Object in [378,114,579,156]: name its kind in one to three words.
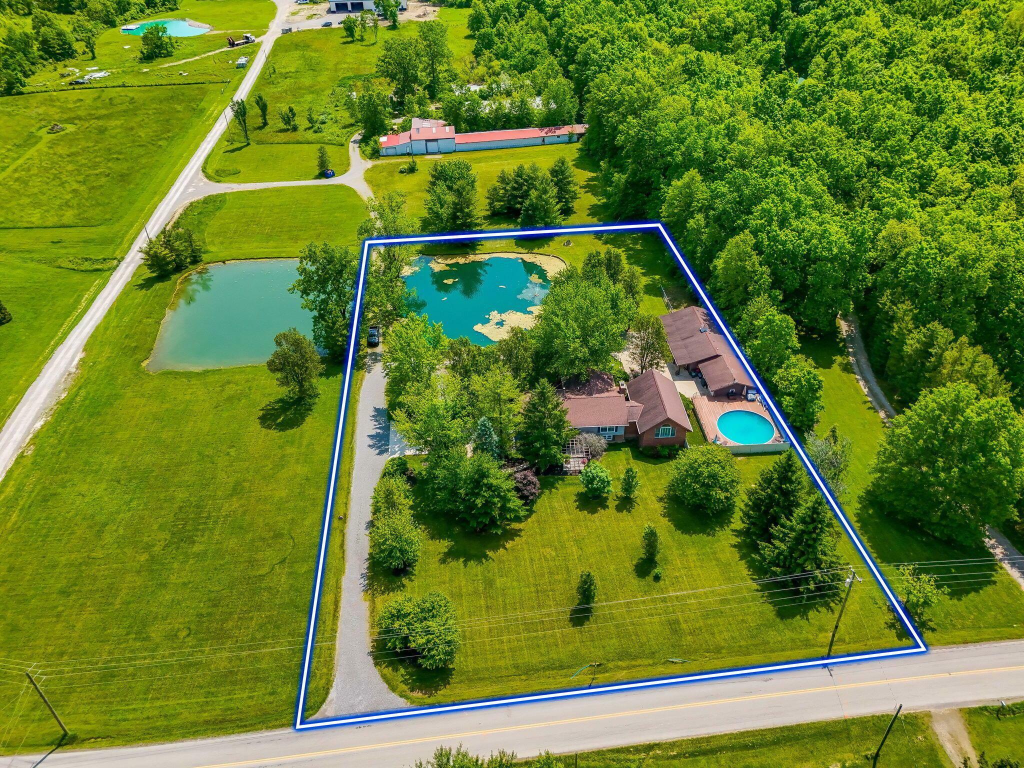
barn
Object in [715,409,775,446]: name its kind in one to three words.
swimming pool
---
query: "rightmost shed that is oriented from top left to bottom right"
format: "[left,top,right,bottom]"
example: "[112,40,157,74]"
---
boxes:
[657,304,759,401]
